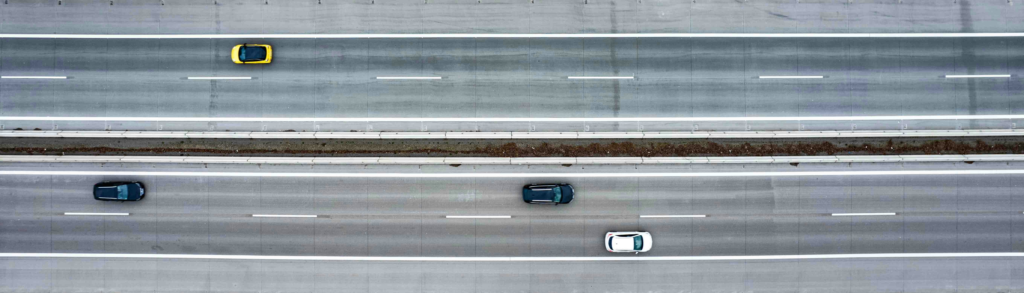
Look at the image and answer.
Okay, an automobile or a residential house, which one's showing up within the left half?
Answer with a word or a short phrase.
automobile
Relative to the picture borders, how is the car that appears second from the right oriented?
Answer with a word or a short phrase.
from left to right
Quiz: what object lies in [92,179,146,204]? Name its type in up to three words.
car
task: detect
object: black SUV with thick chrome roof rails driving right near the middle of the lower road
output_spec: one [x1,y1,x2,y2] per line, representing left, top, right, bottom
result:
[523,182,574,207]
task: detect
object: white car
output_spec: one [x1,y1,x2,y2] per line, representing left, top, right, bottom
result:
[605,231,652,255]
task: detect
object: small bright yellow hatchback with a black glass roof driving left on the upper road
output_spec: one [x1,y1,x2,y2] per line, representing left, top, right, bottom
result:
[231,41,272,65]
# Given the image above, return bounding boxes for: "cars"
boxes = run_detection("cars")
[523,182,574,207]
[231,41,272,65]
[605,231,652,255]
[92,179,146,204]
